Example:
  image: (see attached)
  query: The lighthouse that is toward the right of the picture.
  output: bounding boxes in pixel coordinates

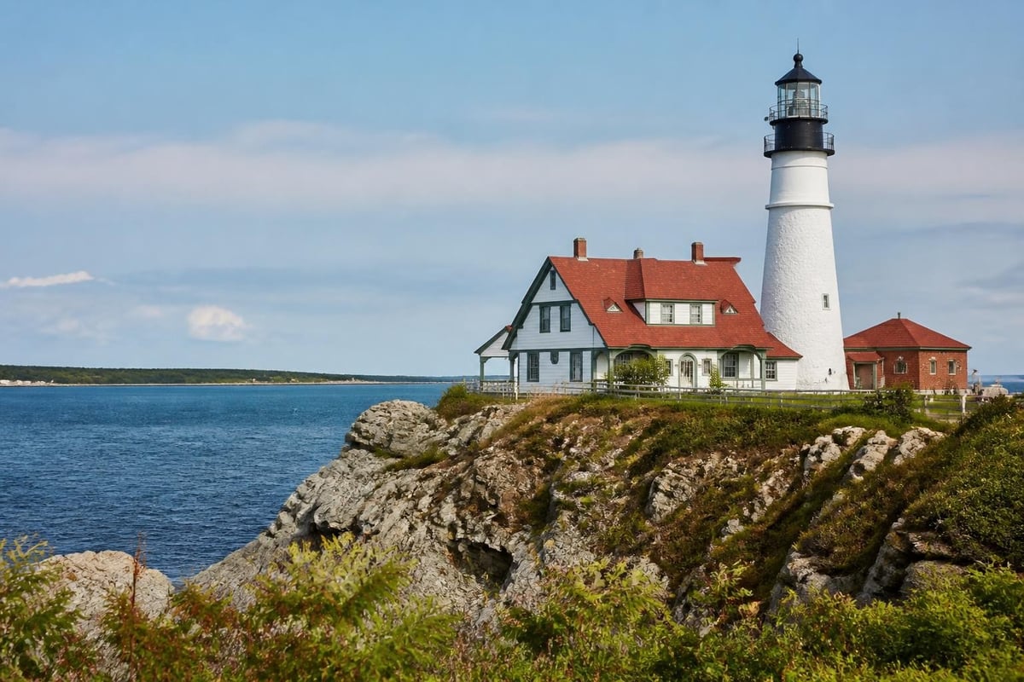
[760,48,844,390]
